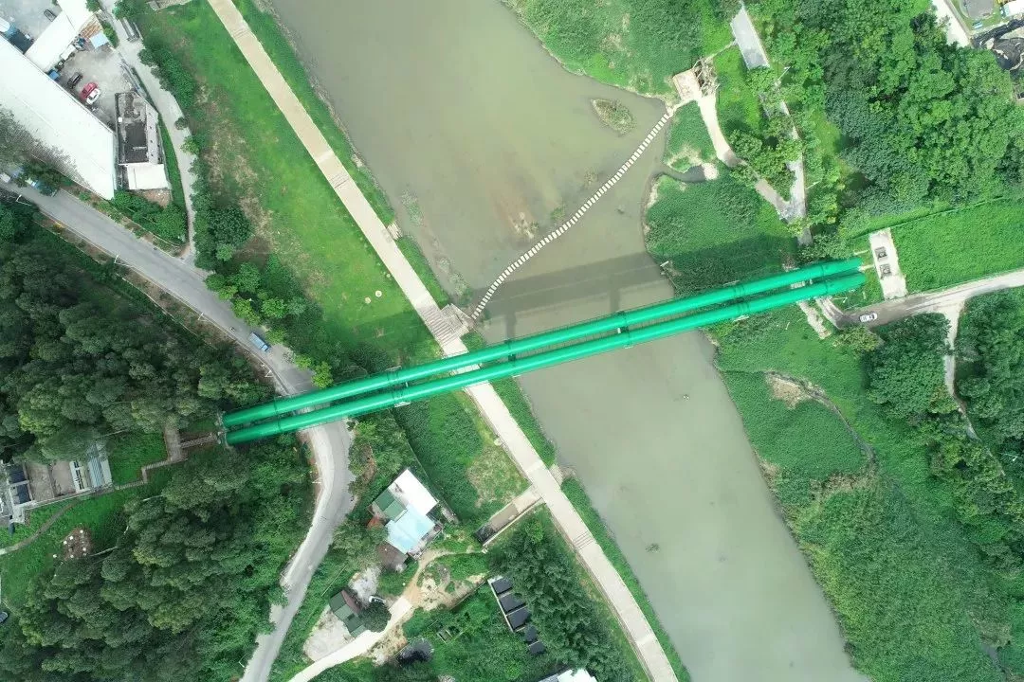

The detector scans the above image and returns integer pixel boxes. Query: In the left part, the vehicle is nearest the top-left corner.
[40,6,56,22]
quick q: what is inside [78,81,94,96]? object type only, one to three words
car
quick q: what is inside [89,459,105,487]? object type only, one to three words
shed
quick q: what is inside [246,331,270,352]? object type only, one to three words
truck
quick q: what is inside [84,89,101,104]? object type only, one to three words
car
